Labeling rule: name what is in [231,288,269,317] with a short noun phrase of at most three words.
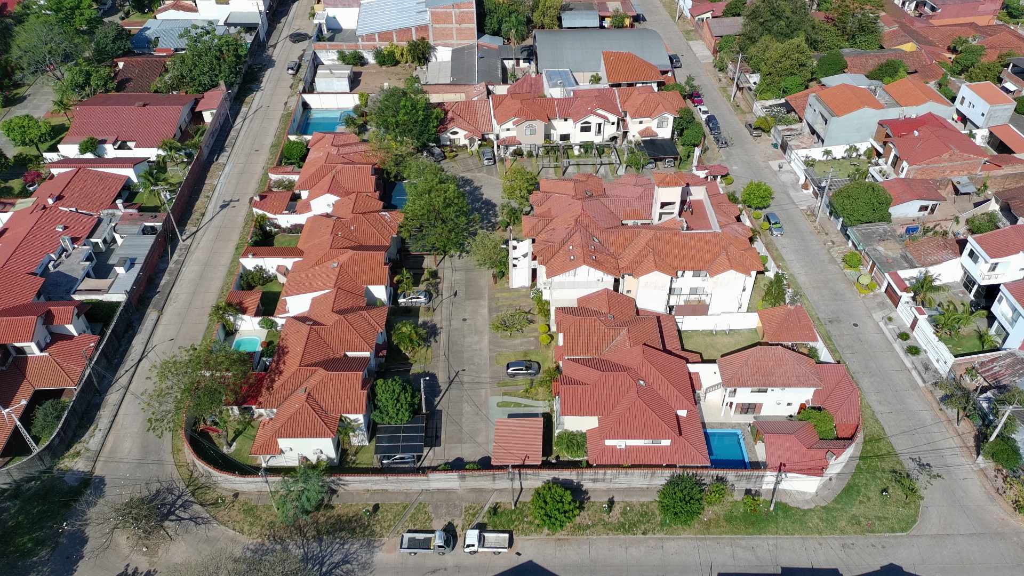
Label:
shed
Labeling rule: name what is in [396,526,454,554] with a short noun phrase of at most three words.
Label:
truck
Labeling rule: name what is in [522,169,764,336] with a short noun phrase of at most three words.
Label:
building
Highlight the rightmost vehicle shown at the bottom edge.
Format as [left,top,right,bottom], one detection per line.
[459,525,515,551]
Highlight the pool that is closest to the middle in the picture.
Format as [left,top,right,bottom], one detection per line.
[388,180,423,209]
